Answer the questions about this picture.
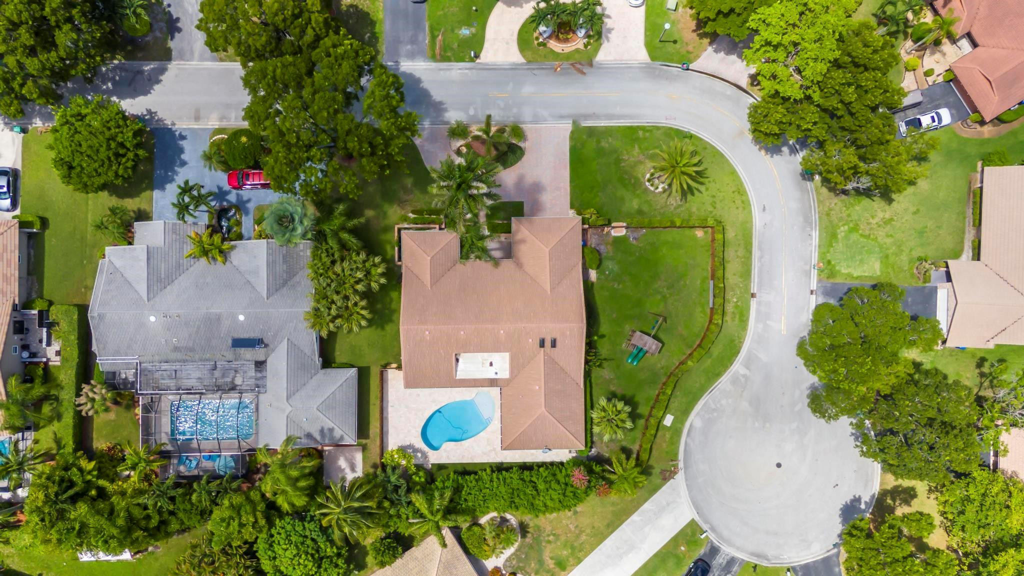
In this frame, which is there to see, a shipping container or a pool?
pool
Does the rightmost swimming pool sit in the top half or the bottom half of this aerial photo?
bottom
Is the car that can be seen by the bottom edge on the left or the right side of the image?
right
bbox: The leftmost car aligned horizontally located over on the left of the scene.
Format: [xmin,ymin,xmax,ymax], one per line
[226,168,269,189]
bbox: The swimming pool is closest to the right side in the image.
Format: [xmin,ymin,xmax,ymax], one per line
[418,388,498,453]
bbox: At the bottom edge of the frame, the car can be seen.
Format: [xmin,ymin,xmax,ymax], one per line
[686,556,713,576]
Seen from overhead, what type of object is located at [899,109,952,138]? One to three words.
truck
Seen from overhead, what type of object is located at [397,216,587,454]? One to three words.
house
